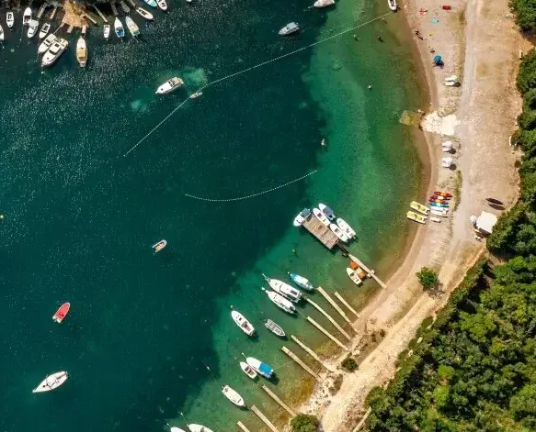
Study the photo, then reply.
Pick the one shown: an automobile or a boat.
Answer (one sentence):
The image shows a boat.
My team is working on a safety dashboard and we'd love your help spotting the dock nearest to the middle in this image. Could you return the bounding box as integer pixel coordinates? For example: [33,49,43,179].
[303,213,339,249]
